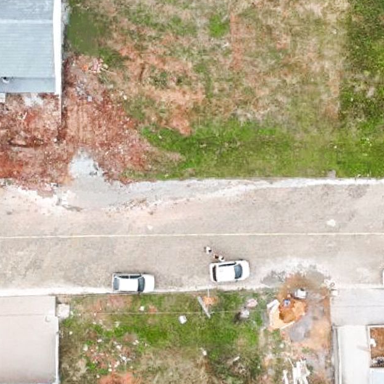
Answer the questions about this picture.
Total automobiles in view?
2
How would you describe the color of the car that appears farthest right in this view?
white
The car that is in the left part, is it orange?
No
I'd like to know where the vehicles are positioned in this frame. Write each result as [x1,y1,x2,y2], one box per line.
[113,274,155,297]
[211,261,250,285]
